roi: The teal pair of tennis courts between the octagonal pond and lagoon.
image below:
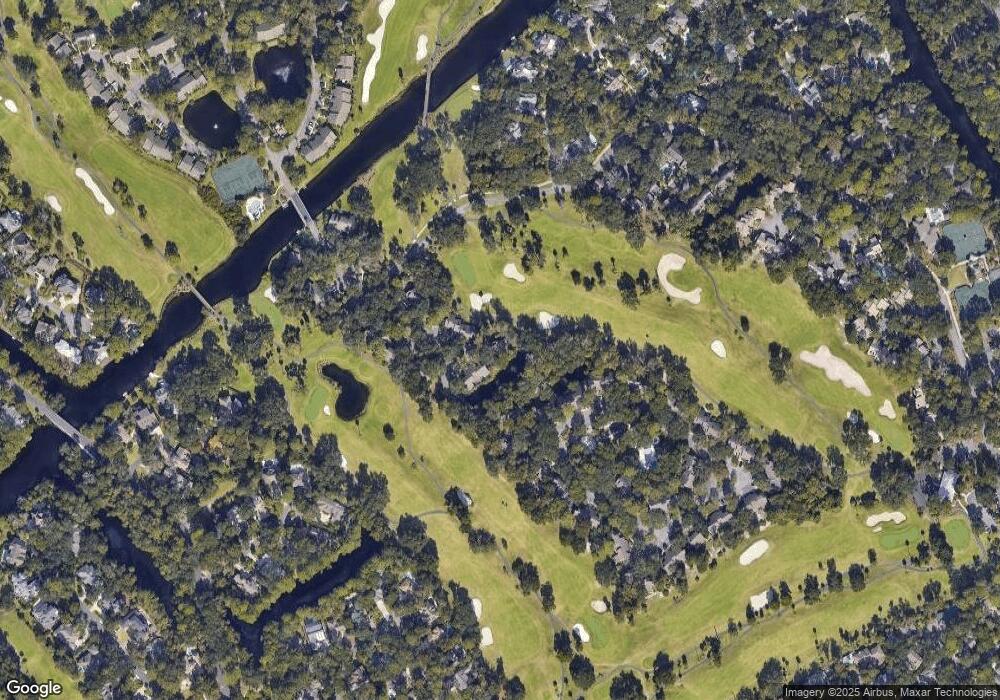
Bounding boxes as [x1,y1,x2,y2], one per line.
[213,155,266,204]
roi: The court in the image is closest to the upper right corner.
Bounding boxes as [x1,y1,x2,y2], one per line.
[944,221,989,261]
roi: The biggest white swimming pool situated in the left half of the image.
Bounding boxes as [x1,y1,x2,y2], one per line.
[246,195,264,220]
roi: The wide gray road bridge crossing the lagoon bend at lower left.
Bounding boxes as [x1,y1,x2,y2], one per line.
[33,397,93,448]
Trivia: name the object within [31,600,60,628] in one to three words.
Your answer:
house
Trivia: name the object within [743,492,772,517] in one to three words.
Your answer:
house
